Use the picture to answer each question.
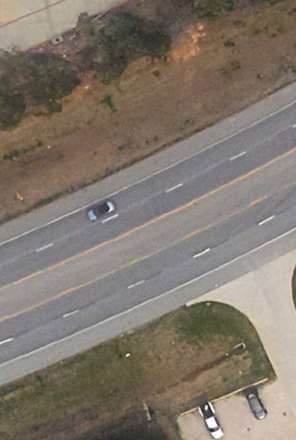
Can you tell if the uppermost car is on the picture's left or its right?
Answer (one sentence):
You can find the uppermost car on the left side of the picture.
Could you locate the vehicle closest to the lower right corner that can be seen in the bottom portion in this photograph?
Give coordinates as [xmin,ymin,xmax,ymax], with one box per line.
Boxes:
[247,392,266,420]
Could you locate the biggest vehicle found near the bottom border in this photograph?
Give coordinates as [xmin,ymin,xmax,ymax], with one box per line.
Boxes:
[199,400,222,439]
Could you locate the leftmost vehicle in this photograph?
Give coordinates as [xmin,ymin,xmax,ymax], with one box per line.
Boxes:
[87,200,116,221]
